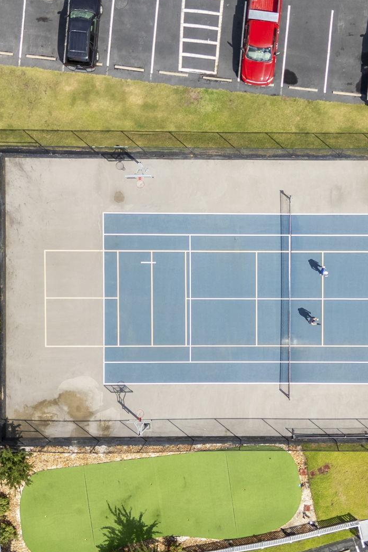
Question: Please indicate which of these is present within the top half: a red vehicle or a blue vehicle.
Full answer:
Looking within the top half, you will find a red vehicle.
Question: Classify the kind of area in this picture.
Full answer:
What you see here is a sports ground.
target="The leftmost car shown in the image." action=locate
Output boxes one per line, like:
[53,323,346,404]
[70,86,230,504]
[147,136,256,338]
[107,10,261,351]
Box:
[63,0,104,72]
